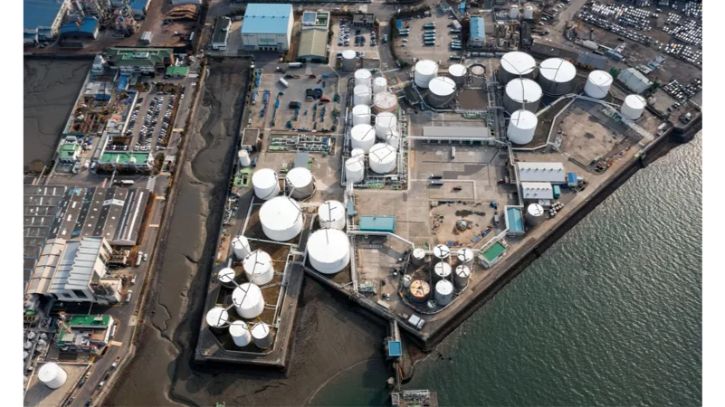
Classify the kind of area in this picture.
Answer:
industrial area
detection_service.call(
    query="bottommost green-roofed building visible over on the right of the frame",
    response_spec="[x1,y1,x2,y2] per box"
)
[479,239,508,266]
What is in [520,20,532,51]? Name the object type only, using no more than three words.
shed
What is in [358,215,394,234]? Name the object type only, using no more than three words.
building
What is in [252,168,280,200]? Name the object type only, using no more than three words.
storage tank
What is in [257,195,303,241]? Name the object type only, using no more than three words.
storage tank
